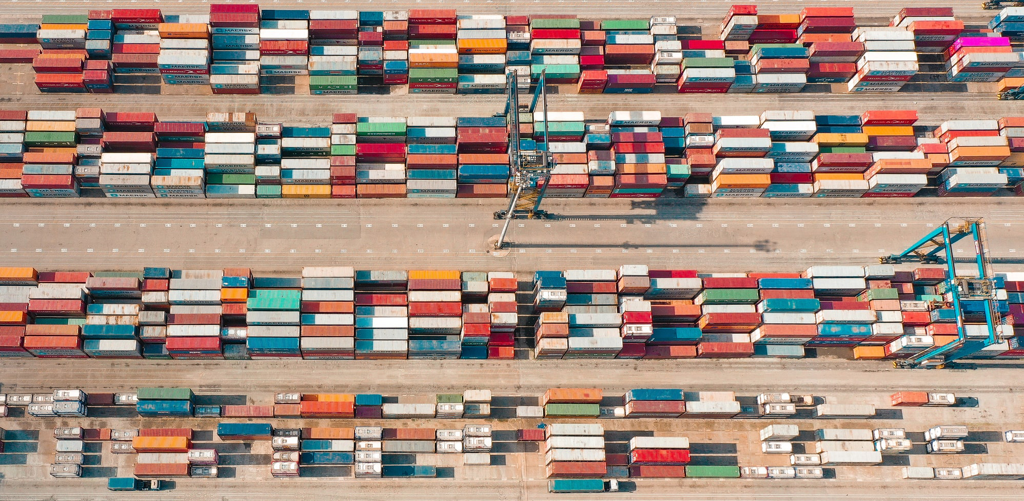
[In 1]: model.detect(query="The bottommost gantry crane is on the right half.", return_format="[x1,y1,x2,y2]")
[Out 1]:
[881,212,1009,371]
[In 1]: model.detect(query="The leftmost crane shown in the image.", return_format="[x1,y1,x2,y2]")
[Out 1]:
[486,66,570,220]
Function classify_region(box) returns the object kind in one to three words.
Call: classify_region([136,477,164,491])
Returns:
vehicle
